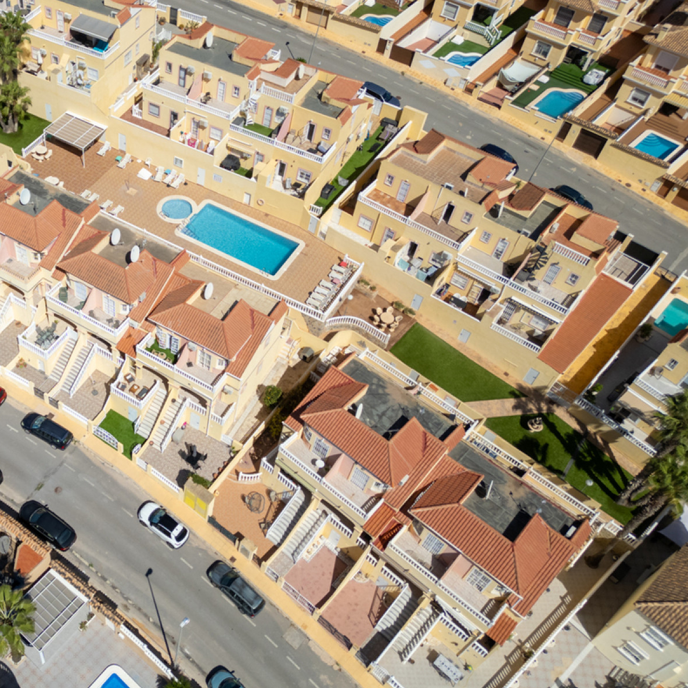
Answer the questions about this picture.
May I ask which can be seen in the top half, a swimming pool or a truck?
swimming pool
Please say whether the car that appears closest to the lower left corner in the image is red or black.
black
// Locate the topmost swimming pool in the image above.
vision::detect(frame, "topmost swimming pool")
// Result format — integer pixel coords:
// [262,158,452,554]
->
[360,13,394,28]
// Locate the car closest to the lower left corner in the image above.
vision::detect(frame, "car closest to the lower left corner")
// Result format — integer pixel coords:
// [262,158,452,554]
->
[19,504,81,553]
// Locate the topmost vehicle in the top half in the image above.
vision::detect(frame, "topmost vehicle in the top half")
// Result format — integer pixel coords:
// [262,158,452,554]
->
[363,78,403,107]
